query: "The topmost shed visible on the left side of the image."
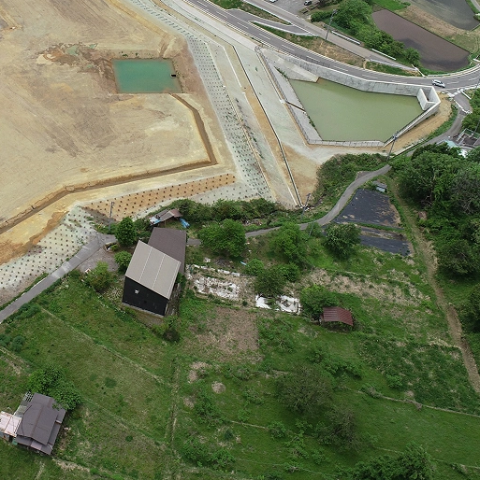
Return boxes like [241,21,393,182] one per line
[146,203,181,228]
